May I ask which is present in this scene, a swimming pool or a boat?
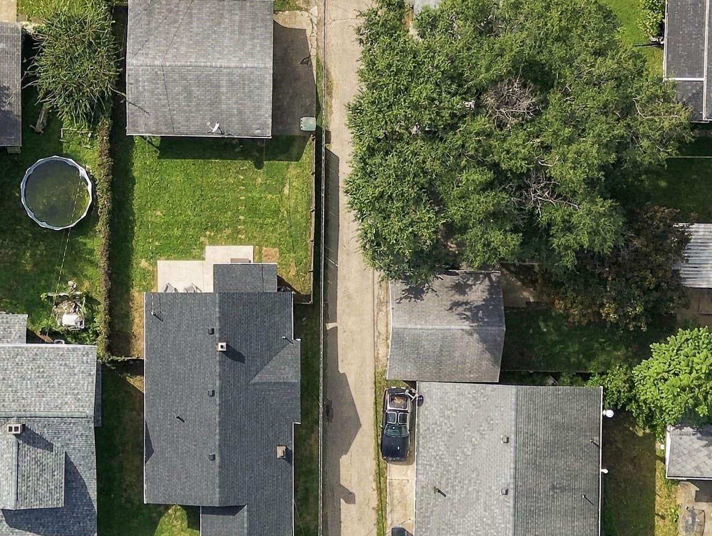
swimming pool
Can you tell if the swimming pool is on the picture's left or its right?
left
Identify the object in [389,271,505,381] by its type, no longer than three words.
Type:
building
